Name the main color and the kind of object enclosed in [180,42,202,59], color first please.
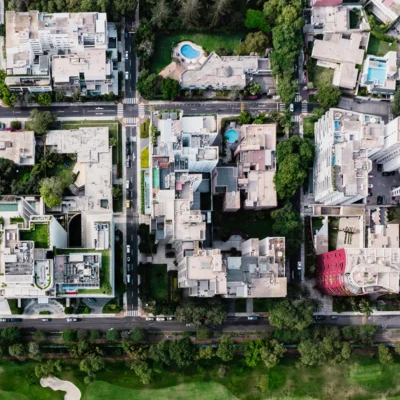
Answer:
blue swimming pool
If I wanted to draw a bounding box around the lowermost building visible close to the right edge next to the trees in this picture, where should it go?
[323,248,400,296]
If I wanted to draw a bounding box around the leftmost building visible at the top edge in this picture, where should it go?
[6,9,53,94]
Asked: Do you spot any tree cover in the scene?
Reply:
Yes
